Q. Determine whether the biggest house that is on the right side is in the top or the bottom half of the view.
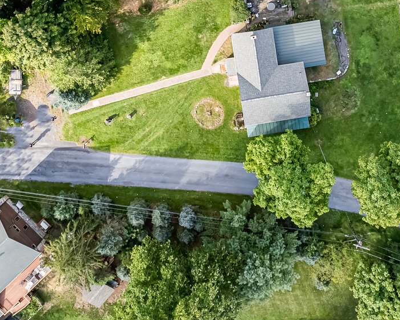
top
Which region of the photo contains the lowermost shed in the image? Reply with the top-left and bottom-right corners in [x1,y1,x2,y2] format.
[82,281,109,307]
